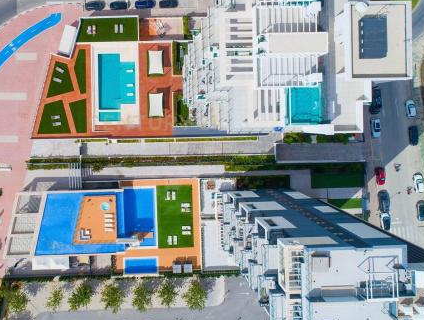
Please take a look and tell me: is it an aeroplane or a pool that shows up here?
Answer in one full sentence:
I can see a pool in this picture.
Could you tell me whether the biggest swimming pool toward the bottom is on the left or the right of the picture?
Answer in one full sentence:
The biggest swimming pool toward the bottom appears in the left half of the scene.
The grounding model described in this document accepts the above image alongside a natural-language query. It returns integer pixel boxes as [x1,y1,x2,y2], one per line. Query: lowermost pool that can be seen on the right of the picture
[285,86,321,124]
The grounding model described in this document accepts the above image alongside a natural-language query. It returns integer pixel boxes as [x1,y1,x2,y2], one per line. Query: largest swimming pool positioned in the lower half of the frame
[36,192,125,254]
